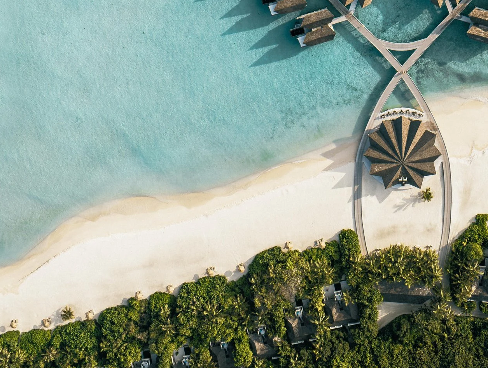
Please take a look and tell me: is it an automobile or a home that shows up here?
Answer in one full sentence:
There is a home in the scene.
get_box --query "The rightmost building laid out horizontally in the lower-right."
[369,274,435,302]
